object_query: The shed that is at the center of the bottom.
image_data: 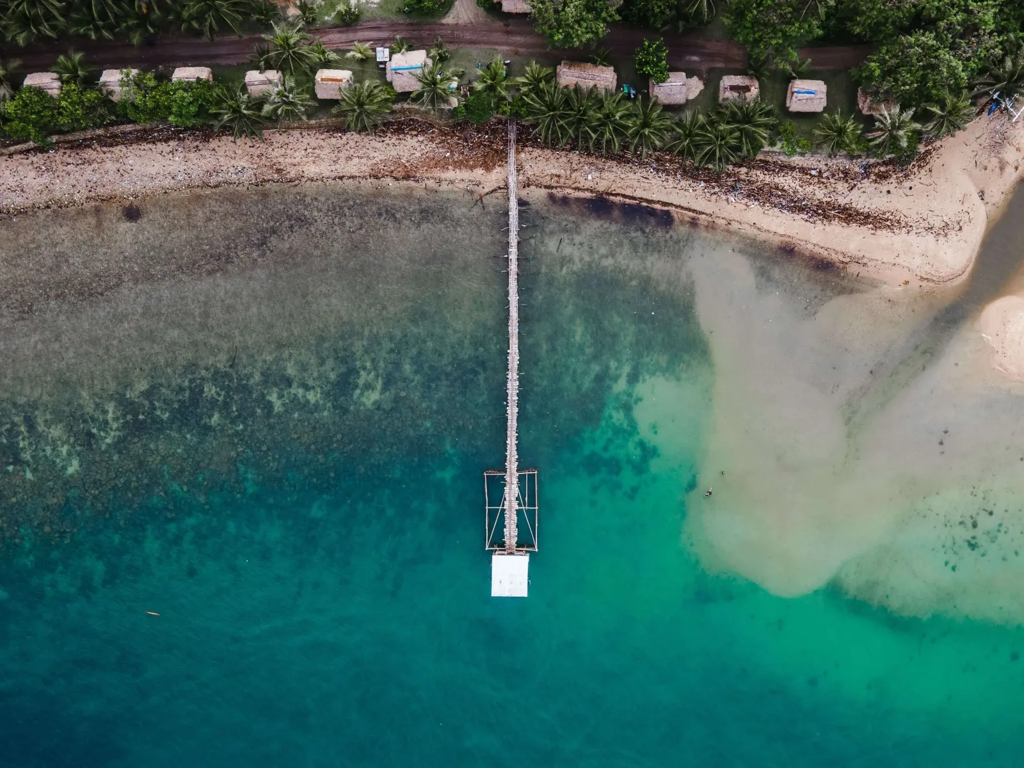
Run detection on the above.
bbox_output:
[491,538,532,596]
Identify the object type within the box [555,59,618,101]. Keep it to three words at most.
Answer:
shed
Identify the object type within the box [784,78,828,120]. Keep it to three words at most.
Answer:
shed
